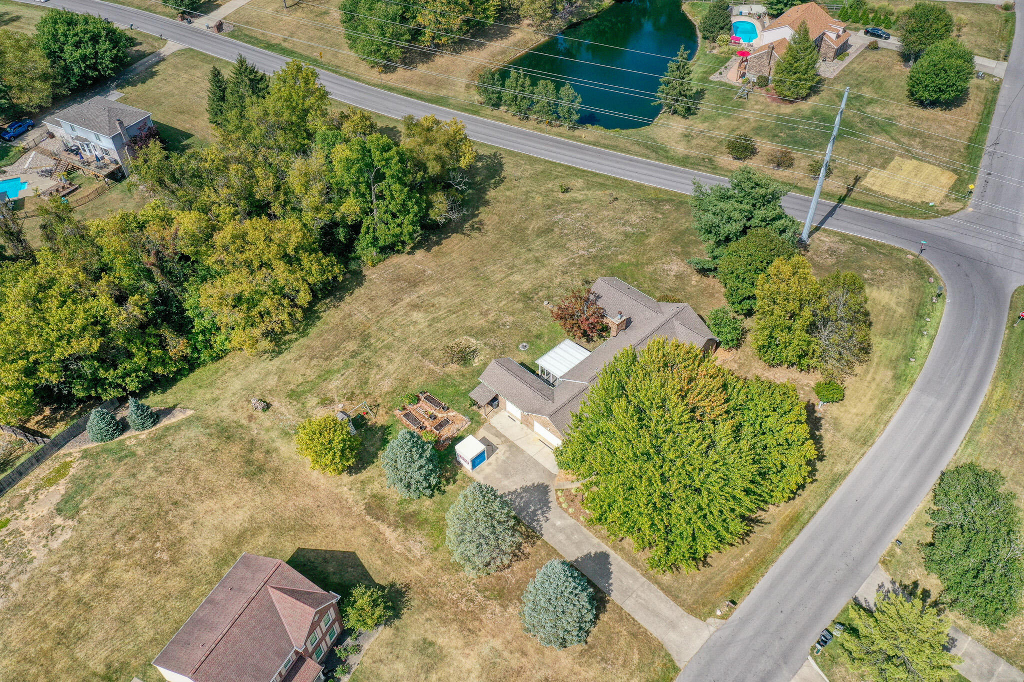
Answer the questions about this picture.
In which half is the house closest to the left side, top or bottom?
top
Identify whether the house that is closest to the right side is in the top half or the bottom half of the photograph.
top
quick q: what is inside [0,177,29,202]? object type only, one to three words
swimming pool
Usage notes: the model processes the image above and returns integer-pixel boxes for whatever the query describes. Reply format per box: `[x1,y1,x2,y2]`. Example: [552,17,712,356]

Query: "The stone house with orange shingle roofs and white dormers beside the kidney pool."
[742,0,856,82]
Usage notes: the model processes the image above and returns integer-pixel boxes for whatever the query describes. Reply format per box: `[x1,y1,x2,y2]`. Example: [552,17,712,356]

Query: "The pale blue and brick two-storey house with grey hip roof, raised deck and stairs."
[41,96,162,187]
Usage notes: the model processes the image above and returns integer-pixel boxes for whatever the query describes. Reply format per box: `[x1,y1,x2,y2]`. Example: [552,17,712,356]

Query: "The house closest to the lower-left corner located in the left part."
[150,551,343,682]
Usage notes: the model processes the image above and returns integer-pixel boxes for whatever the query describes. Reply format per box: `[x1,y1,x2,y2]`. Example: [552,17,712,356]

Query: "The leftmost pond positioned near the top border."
[487,0,699,130]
